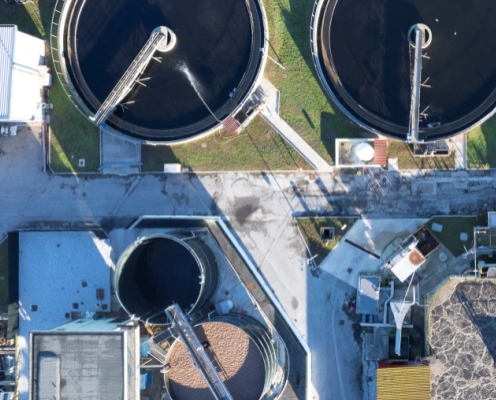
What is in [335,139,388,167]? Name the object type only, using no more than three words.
house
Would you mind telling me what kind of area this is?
industrial area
